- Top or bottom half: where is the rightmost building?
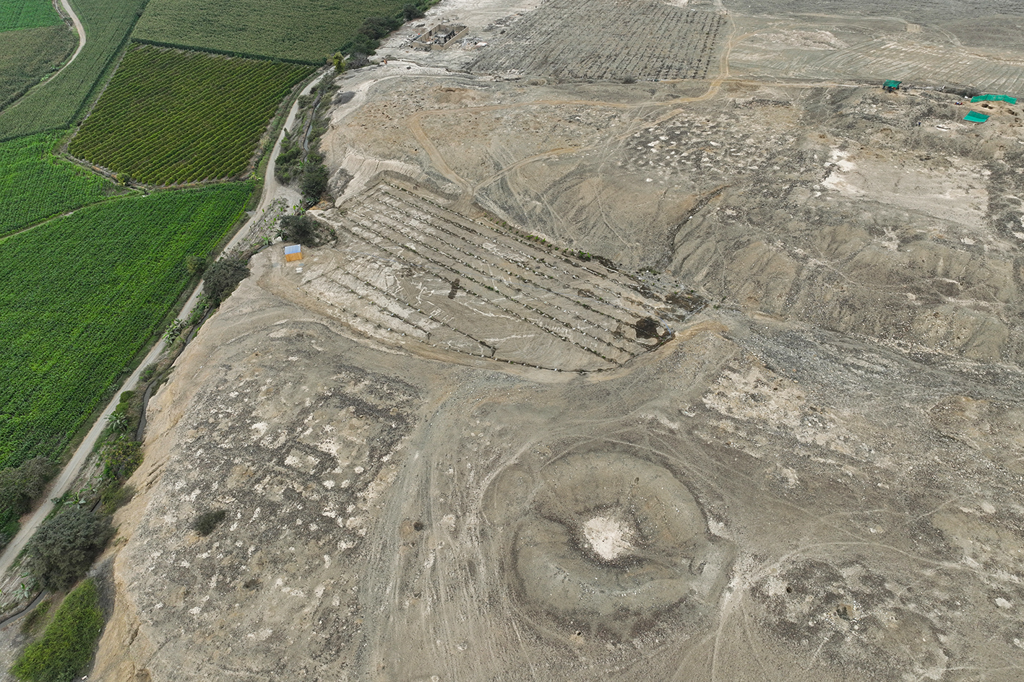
top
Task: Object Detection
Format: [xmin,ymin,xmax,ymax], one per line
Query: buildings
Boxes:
[412,25,469,50]
[284,245,303,261]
